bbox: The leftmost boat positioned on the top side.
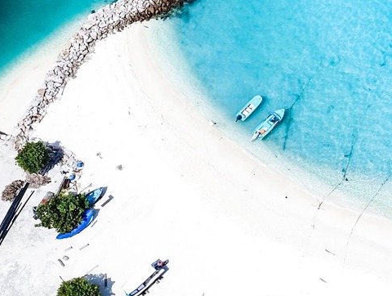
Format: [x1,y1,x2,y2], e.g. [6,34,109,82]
[229,97,261,126]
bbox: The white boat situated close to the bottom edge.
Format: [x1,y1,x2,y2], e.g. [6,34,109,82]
[126,259,168,296]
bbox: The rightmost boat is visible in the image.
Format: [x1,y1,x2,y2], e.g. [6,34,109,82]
[249,109,286,147]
